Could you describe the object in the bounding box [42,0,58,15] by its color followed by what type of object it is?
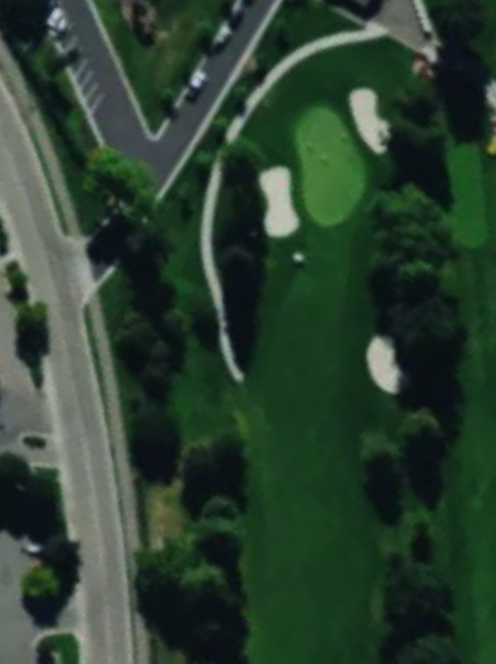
black car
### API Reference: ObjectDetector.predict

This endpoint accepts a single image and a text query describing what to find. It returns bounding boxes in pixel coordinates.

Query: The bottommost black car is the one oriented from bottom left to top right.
[62,44,81,66]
